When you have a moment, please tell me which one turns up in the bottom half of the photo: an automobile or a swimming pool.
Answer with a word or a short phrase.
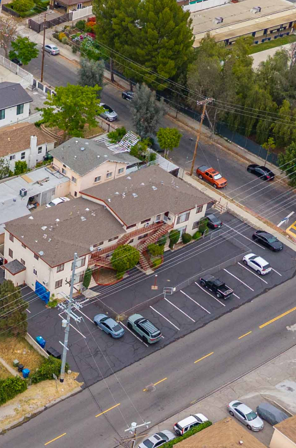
automobile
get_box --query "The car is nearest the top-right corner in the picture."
[247,166,274,183]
